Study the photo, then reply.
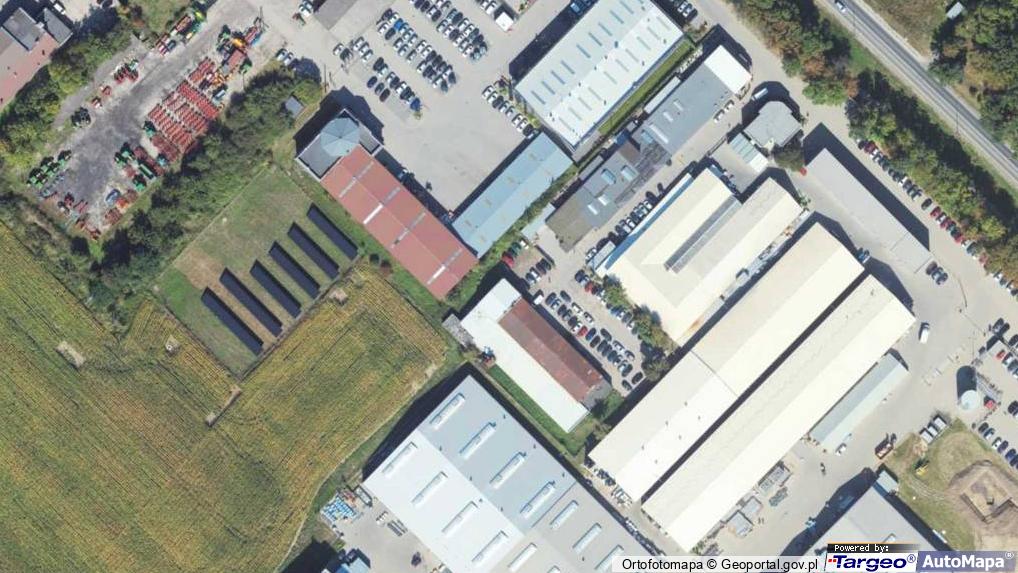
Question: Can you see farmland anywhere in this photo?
Yes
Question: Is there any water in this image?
No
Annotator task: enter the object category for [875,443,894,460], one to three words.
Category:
vehicle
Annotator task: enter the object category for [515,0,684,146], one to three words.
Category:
warehouse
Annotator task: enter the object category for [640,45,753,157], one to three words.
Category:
building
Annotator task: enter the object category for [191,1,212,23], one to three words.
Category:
work vehicle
